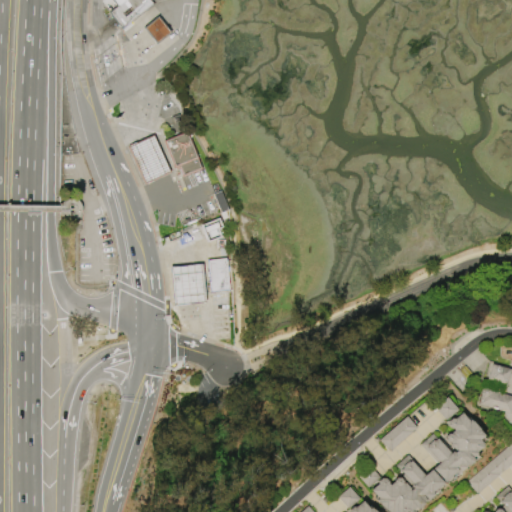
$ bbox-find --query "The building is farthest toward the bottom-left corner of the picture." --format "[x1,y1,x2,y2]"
[173,262,208,304]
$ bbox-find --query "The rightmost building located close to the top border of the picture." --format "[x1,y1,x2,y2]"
[147,18,172,42]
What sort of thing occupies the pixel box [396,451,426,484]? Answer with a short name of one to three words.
house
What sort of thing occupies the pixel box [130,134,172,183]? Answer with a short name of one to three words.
building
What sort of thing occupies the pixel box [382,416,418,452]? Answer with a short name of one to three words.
building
